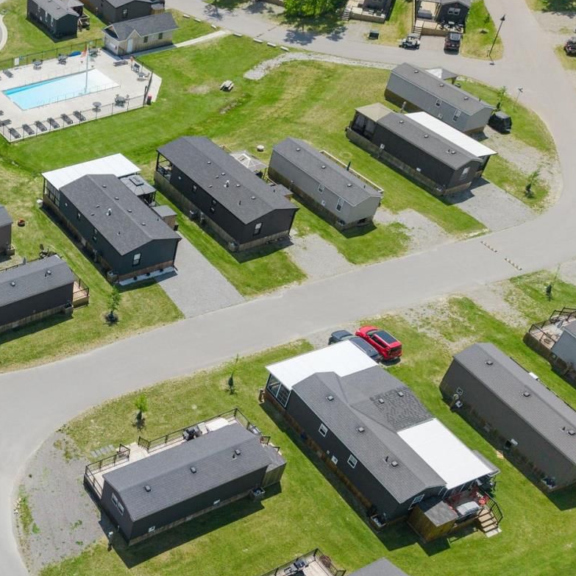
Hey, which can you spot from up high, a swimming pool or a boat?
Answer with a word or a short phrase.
swimming pool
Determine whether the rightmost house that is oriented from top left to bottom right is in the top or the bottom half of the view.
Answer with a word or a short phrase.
bottom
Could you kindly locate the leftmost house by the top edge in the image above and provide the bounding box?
[29,0,82,40]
